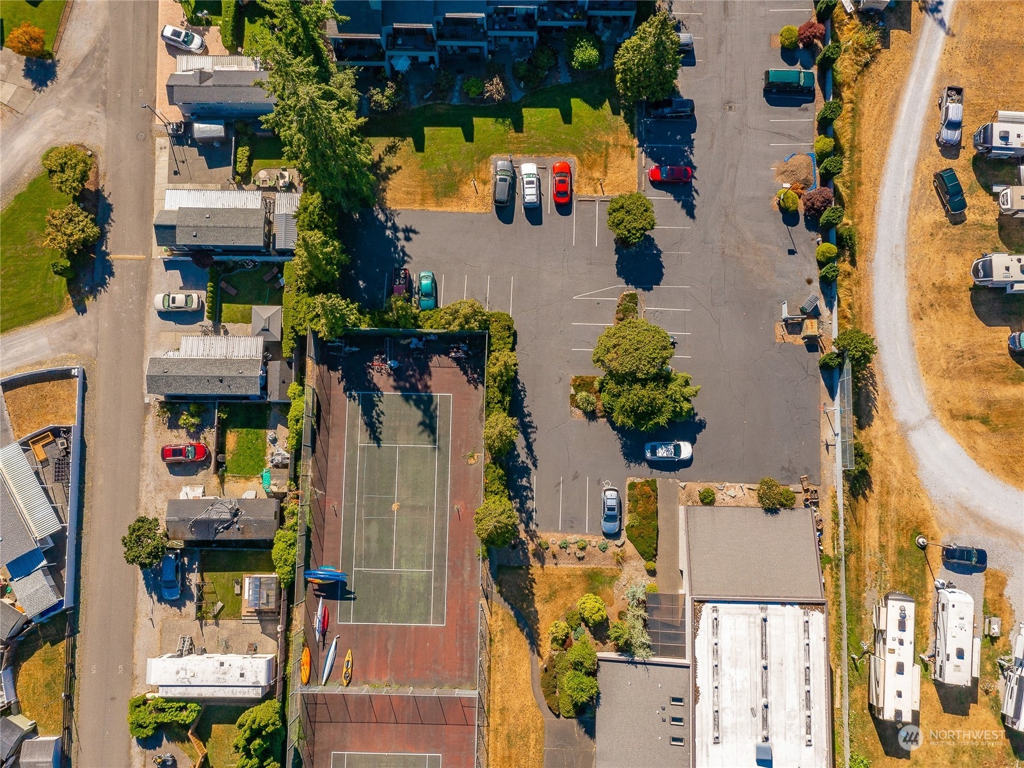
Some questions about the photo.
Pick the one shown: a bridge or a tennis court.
tennis court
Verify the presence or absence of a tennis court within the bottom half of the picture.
Yes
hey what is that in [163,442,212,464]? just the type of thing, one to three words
car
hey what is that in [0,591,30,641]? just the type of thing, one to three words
shed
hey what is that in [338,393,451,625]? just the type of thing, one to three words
tennis court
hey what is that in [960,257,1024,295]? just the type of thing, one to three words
trailer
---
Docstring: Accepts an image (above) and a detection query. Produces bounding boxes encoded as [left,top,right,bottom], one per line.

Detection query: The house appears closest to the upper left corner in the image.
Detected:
[164,70,283,113]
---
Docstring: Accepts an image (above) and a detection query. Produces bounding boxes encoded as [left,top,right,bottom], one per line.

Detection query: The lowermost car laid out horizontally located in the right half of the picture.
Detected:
[937,547,985,569]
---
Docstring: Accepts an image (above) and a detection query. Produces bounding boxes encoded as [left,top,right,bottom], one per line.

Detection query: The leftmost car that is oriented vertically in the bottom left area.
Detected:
[159,549,186,599]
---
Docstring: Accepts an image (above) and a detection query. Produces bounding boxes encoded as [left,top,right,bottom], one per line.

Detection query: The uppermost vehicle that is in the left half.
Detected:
[162,27,208,57]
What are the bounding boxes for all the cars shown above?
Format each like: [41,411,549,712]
[519,167,541,210]
[1009,334,1024,352]
[929,167,965,215]
[760,70,813,94]
[157,292,205,313]
[647,99,695,122]
[163,442,212,464]
[493,164,515,208]
[159,549,186,599]
[551,164,573,205]
[416,271,437,309]
[647,164,693,185]
[643,440,692,462]
[600,485,623,535]
[162,27,208,57]
[937,547,985,569]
